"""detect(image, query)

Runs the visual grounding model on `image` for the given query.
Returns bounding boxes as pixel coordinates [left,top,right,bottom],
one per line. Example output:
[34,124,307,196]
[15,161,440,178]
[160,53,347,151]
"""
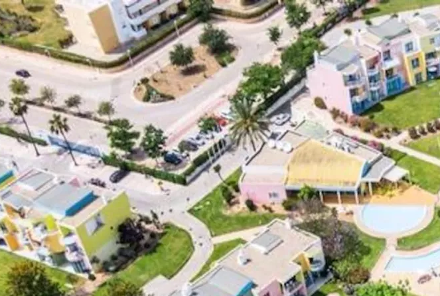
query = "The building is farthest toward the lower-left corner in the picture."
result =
[0,154,139,278]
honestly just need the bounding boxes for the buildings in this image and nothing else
[0,154,139,278]
[306,0,440,114]
[240,129,411,205]
[73,0,193,53]
[174,215,334,296]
